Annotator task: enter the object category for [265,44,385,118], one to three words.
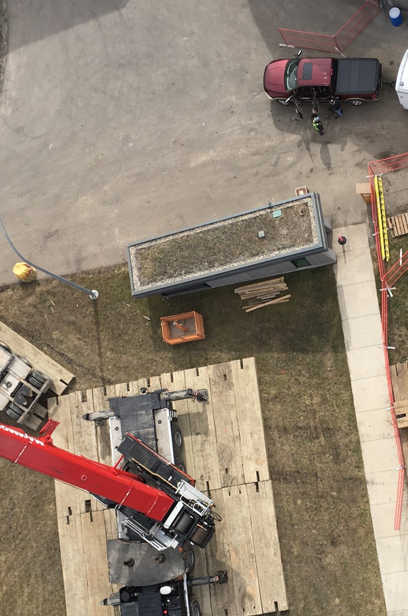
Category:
truck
